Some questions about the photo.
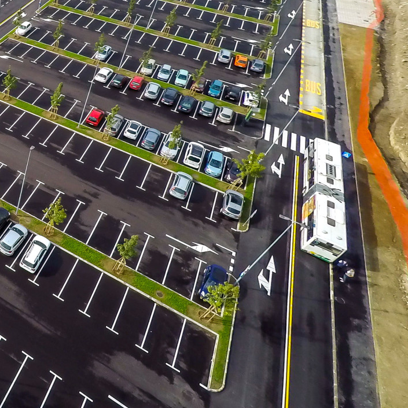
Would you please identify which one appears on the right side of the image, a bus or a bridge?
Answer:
bus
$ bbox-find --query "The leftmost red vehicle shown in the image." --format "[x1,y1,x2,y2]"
[85,107,105,126]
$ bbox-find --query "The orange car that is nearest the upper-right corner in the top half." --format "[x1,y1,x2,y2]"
[232,55,250,69]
